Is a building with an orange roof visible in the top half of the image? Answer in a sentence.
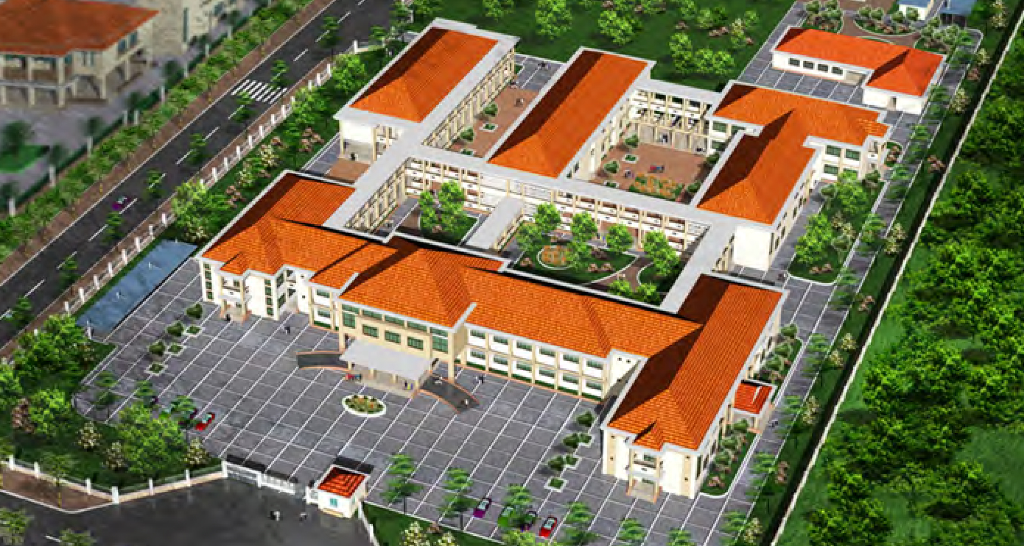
Yes, there is a building with an orange roof in the top half of the image.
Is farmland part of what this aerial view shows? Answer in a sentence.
No, farmland can't be seen anywhere here.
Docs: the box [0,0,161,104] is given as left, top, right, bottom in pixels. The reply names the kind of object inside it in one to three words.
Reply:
house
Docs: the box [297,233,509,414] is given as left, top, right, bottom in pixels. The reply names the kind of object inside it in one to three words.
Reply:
building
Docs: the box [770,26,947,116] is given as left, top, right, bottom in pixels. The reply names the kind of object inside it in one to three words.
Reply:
building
